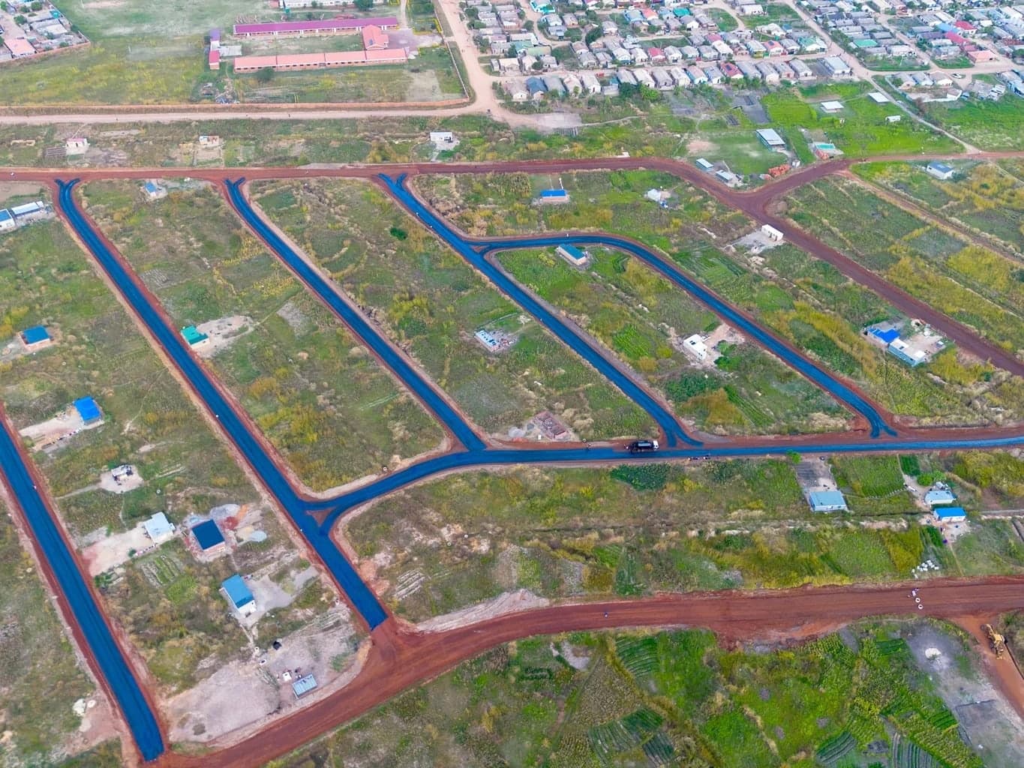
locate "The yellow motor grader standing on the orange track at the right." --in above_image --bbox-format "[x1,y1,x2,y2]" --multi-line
[983,622,1008,662]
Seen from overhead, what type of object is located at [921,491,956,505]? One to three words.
house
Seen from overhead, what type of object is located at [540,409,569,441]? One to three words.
house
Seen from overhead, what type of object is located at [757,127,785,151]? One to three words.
barn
